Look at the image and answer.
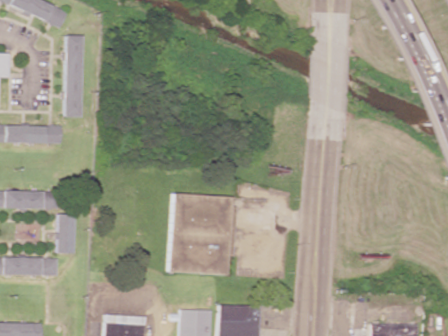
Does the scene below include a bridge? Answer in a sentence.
Yes, the photo shows a bridge.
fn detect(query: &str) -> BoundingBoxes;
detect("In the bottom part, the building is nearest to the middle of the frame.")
[166,194,236,276]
